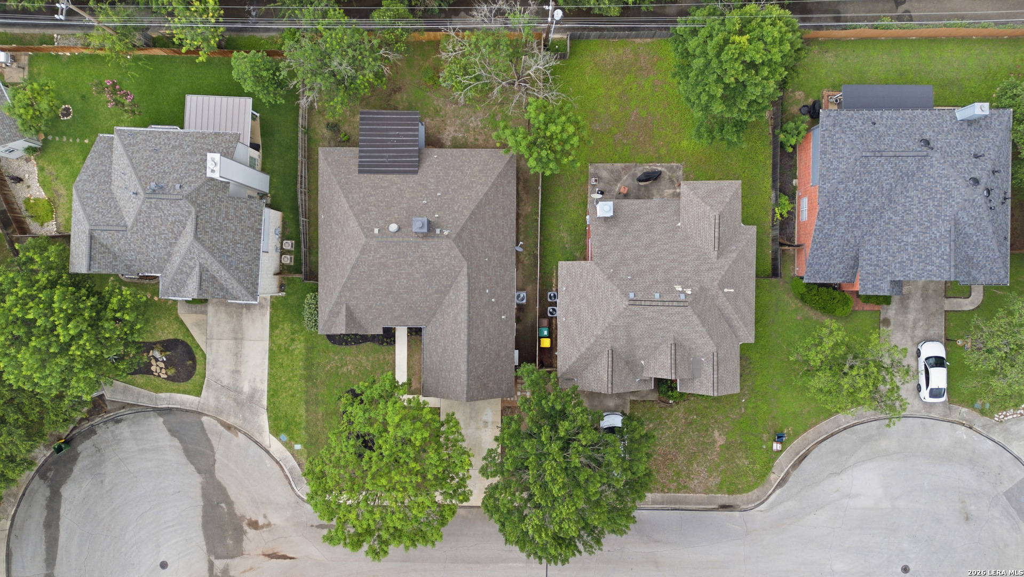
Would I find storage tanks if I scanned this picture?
No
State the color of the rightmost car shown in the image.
white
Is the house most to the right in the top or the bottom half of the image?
top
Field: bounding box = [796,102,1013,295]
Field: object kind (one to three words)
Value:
house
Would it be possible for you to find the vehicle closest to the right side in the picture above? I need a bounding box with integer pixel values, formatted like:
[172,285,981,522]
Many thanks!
[915,340,949,402]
